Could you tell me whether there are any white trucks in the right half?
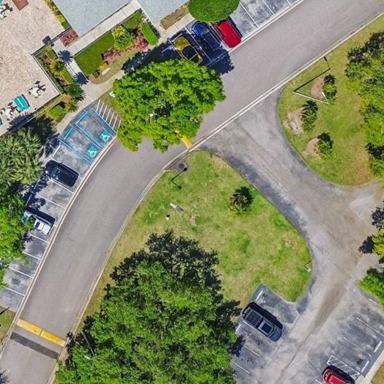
No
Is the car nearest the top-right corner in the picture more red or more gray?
red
